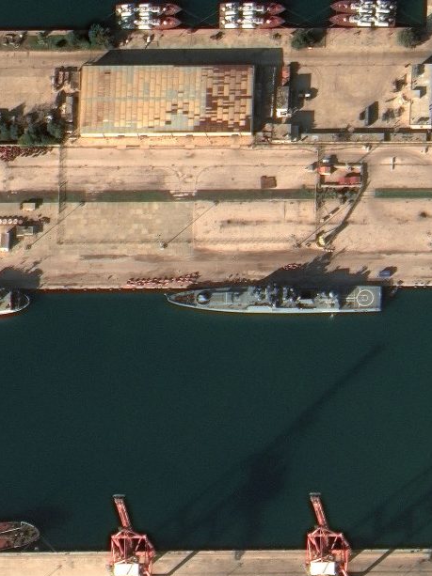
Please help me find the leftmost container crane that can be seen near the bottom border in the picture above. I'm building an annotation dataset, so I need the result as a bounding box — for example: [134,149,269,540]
[108,498,160,576]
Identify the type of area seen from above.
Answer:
port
